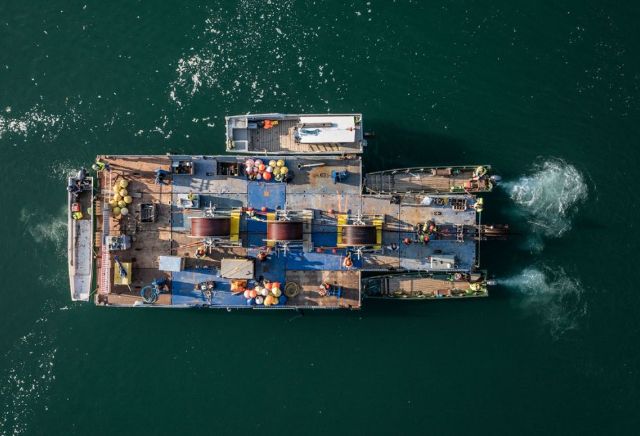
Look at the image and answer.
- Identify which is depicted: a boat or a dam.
boat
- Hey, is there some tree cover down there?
No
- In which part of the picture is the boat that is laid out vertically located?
left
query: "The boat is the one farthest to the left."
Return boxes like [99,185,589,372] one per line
[69,155,97,302]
